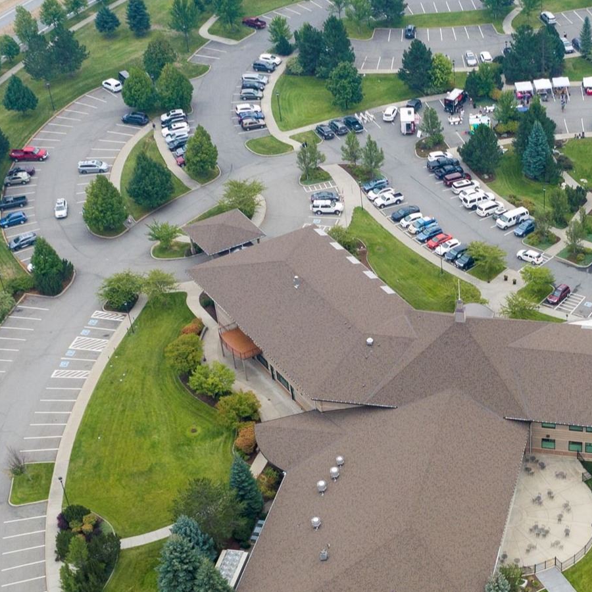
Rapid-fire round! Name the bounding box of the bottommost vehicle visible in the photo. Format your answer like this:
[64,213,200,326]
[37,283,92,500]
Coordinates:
[548,279,569,305]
